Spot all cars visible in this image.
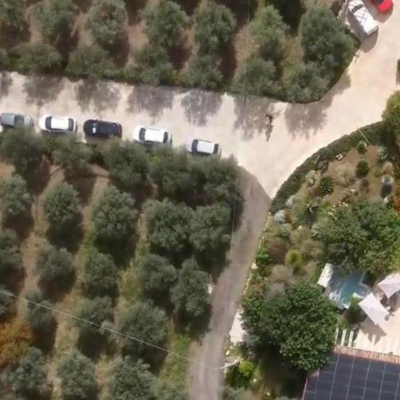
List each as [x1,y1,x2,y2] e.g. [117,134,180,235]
[84,119,124,139]
[0,111,38,129]
[188,137,223,156]
[134,125,174,146]
[370,0,394,12]
[345,0,380,38]
[40,114,79,133]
